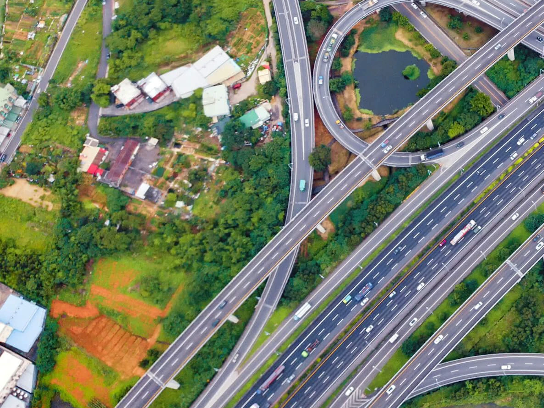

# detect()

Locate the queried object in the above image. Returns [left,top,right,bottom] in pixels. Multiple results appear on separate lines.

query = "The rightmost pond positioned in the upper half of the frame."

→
[352,51,435,116]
